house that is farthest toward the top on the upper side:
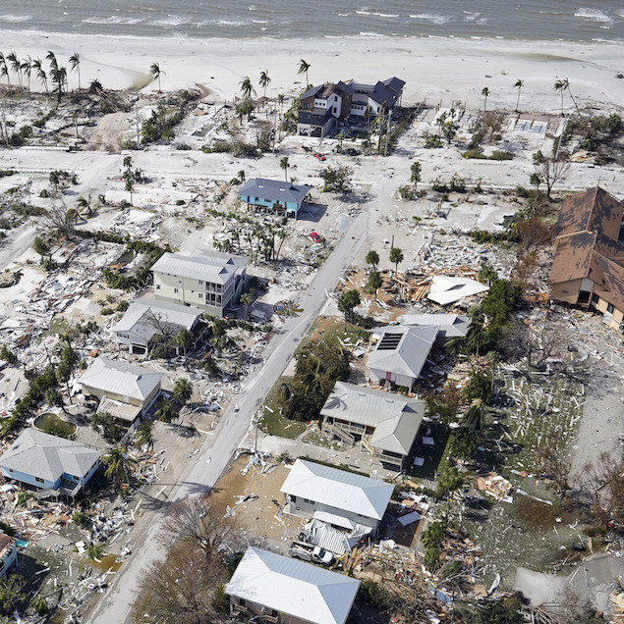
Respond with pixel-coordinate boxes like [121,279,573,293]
[297,74,408,136]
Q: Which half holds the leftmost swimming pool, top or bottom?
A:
bottom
